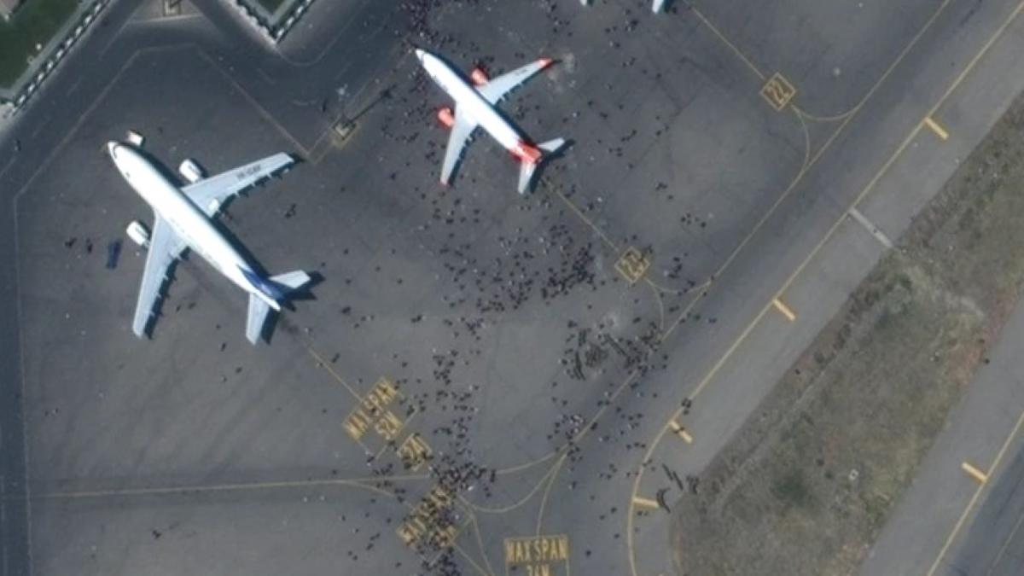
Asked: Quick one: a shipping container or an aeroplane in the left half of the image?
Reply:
aeroplane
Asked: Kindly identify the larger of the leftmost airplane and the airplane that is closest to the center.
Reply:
the leftmost airplane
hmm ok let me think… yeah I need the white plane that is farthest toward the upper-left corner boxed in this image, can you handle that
[107,142,310,344]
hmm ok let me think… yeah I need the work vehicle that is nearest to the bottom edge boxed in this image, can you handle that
[103,236,120,269]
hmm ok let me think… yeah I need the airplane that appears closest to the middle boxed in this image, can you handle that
[416,48,567,195]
